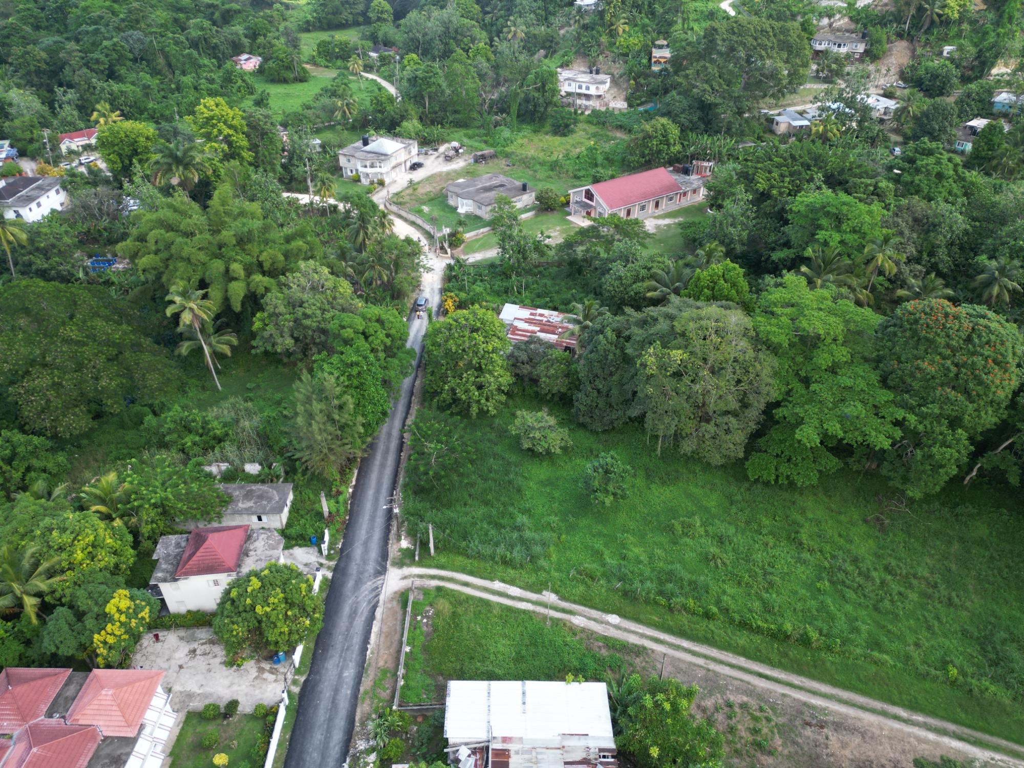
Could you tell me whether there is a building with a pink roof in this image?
Yes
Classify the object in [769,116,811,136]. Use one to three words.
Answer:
building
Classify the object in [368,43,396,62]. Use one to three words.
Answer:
house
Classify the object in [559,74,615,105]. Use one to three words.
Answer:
house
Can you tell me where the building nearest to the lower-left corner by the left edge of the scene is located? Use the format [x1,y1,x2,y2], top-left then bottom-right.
[0,666,177,768]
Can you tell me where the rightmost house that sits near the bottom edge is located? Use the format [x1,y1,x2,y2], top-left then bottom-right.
[441,677,619,768]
